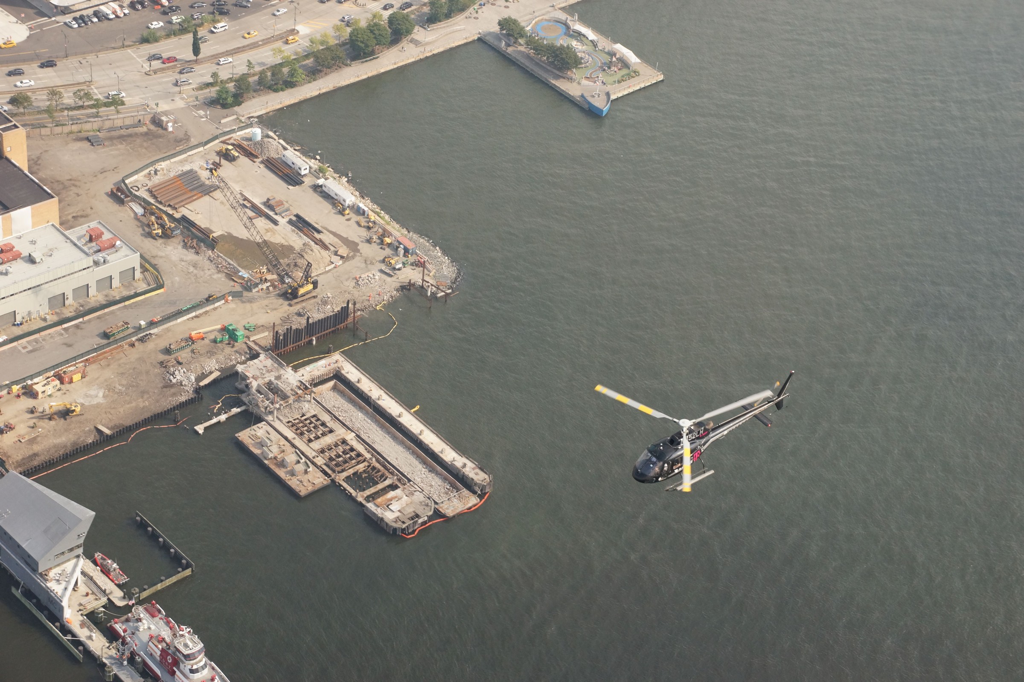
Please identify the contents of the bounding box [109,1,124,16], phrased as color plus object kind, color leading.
white vehicle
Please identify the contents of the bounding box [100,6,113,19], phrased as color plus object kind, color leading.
white vehicle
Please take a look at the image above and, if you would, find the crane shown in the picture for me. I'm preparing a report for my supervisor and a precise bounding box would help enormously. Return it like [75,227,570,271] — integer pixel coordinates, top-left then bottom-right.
[209,166,324,303]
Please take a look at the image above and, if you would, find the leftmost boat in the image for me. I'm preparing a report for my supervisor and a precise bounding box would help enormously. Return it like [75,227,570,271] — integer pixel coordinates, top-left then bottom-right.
[95,553,129,587]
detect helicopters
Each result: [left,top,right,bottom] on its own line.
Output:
[596,368,798,494]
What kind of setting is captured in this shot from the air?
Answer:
port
